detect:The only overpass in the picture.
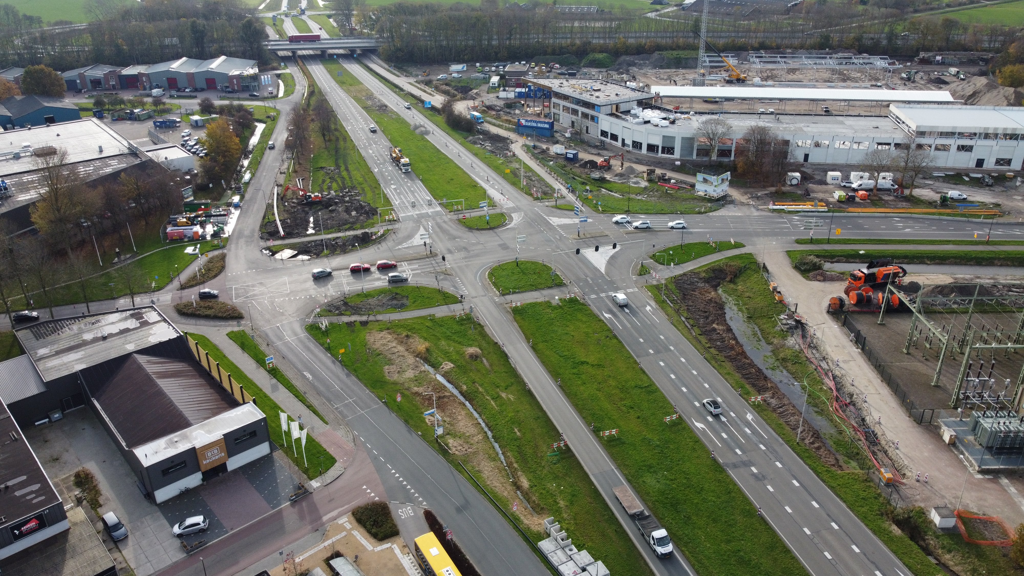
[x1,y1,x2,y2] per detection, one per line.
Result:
[247,37,404,63]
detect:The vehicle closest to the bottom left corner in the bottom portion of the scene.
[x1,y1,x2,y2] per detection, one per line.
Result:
[96,508,130,540]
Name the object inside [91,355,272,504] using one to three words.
building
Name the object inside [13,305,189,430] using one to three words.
building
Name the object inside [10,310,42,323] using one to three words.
vehicle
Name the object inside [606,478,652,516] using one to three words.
trailer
